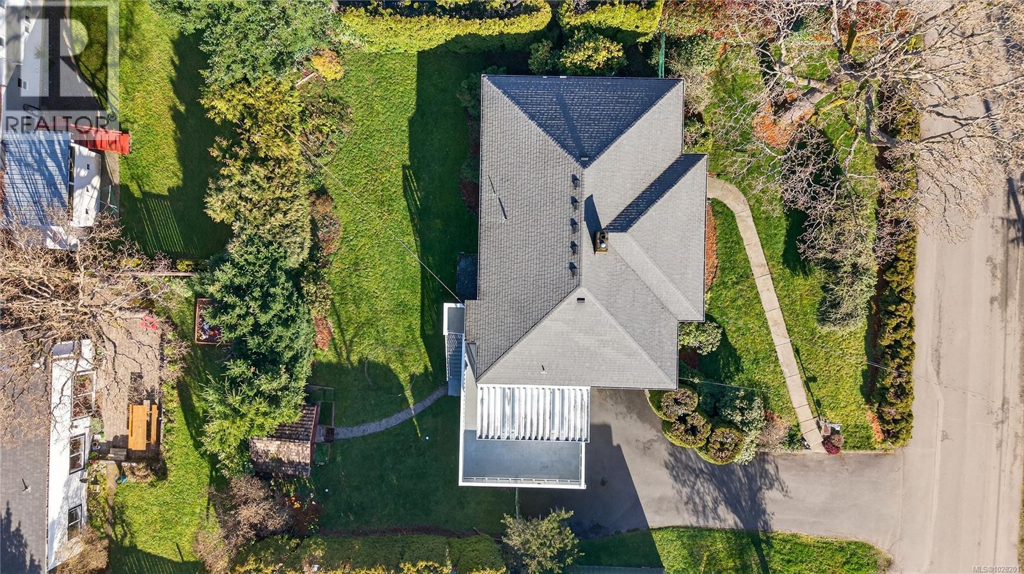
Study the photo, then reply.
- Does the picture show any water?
No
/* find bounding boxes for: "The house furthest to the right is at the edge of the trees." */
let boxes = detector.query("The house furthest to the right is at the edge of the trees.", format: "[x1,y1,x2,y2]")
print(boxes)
[440,72,710,488]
